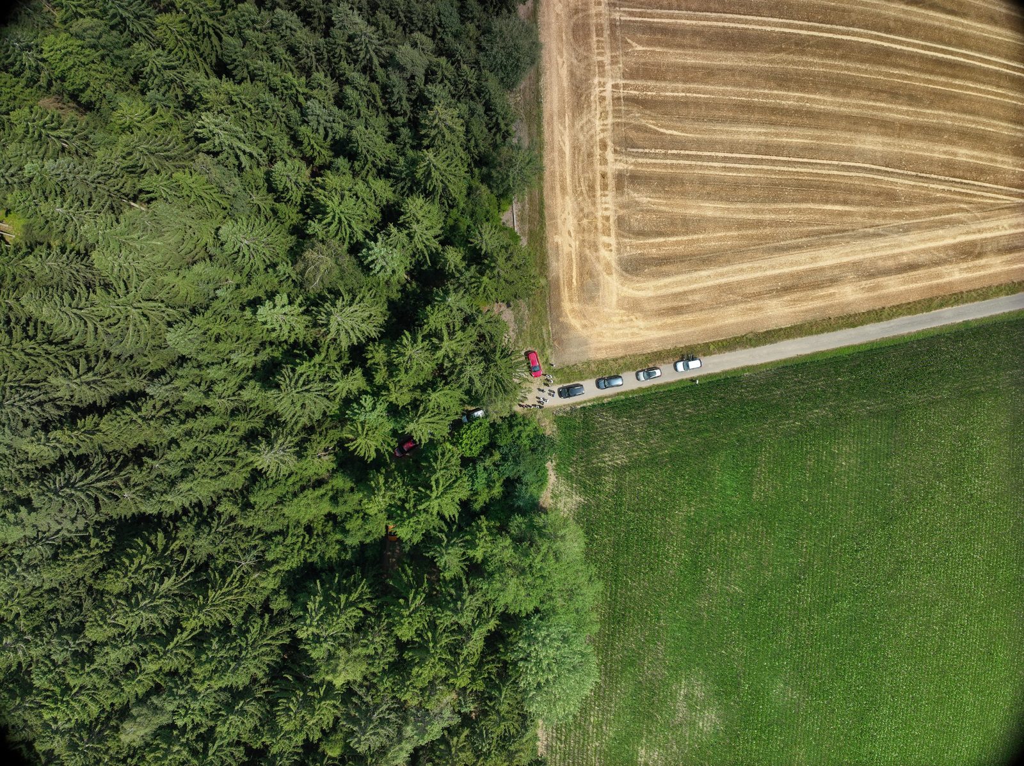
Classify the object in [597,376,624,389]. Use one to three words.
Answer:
vehicle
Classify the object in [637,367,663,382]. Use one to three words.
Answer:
car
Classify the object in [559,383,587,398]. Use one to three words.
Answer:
car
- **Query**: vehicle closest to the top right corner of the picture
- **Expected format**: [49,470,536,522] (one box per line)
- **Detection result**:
[675,355,703,372]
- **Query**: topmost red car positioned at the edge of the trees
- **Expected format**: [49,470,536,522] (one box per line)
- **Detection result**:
[528,351,542,377]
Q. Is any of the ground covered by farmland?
Yes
